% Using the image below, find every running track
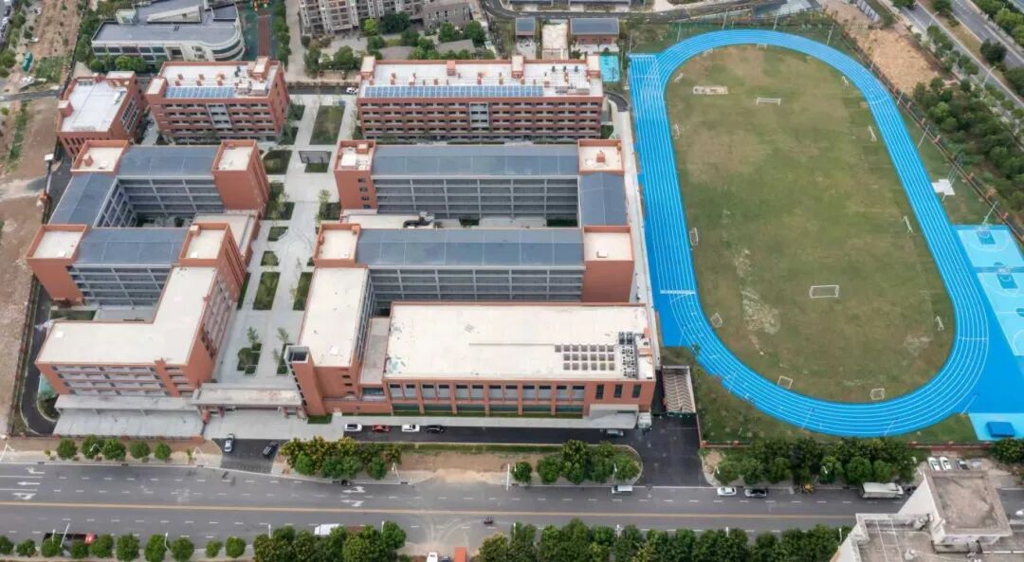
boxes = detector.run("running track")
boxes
[628,29,994,435]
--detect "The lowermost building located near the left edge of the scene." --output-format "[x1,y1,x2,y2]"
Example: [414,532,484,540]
[34,263,244,399]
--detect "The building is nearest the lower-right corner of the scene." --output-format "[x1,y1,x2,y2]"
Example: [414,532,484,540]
[835,472,1024,562]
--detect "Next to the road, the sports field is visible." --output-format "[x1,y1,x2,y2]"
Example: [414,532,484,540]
[666,43,956,402]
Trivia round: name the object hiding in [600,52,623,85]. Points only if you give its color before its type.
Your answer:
blue sports court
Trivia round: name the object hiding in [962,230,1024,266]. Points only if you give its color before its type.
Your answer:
blue basketball court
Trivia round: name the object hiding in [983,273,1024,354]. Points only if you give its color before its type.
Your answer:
blue basketball court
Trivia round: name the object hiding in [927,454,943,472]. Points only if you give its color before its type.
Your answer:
white car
